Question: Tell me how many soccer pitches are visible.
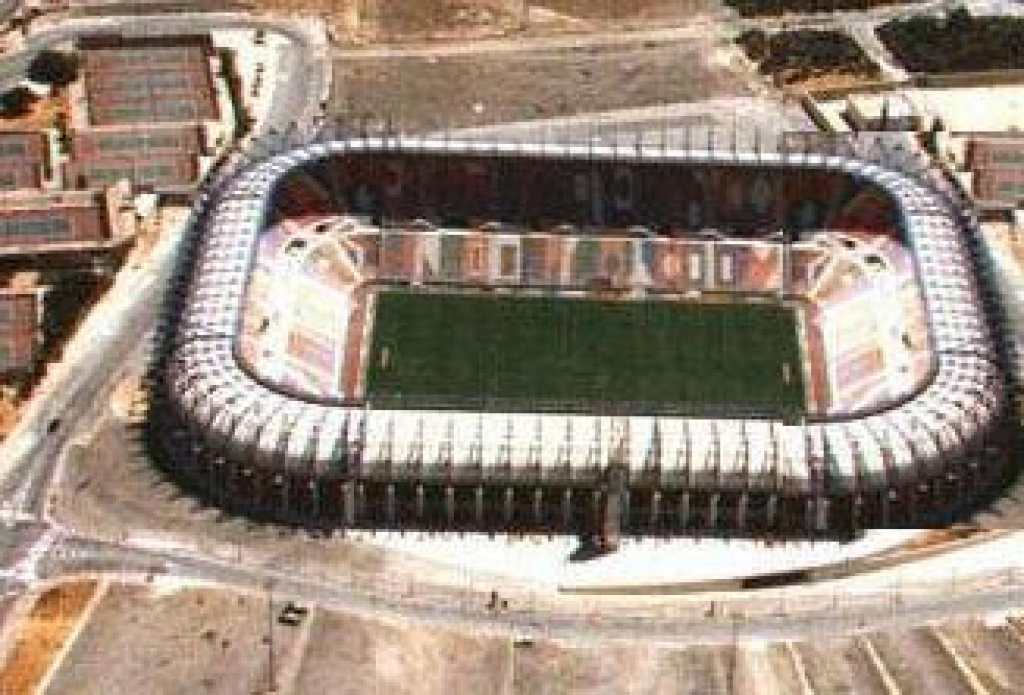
1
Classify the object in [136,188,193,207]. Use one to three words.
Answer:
building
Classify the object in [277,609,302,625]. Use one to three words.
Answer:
vehicle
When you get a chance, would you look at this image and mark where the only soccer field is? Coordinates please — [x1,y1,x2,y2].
[340,284,831,422]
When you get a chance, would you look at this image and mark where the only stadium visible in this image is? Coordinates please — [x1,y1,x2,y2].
[135,114,1024,560]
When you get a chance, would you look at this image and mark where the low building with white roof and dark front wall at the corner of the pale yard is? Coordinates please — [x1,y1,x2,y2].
[843,98,913,132]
